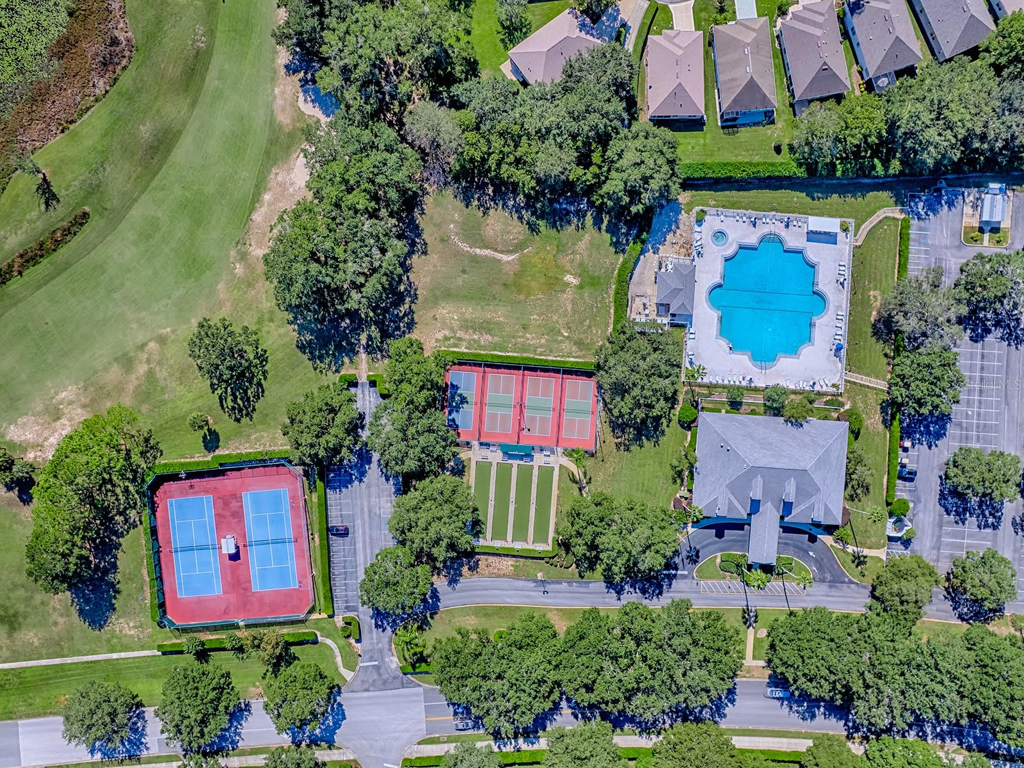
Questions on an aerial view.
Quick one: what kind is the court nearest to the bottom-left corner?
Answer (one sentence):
Looking closely, the court nearest to the bottom-left corner is a tennis court.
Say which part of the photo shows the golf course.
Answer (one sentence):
You can find the golf course in the top left area of the picture.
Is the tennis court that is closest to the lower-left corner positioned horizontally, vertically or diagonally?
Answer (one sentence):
From this overhead view, the tennis court that is closest to the lower-left corner appears to run vertically.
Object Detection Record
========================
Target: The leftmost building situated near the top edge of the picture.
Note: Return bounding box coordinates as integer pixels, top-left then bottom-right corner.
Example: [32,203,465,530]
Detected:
[508,3,606,88]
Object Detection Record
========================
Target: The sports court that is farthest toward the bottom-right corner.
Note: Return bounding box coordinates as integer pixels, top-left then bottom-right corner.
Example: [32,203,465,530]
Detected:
[563,380,593,438]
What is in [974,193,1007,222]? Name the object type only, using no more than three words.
shed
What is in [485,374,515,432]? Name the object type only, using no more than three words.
sports court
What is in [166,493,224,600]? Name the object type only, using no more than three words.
tennis court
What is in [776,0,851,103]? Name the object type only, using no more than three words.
house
